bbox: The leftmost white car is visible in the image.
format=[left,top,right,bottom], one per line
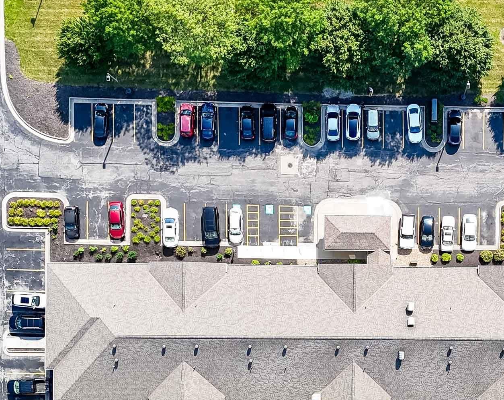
[12,291,46,309]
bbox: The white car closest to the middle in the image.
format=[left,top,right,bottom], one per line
[227,206,244,244]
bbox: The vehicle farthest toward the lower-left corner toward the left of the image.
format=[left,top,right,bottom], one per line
[7,379,51,396]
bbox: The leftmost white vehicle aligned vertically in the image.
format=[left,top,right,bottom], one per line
[161,209,180,247]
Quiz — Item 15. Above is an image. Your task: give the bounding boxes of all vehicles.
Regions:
[12,291,46,309]
[406,105,423,143]
[447,110,464,145]
[11,314,46,330]
[402,212,415,250]
[365,109,382,140]
[325,105,341,142]
[110,202,126,240]
[227,206,244,244]
[460,214,478,250]
[283,106,299,143]
[7,379,51,396]
[440,217,455,251]
[161,209,180,247]
[345,105,362,142]
[201,206,220,247]
[419,216,435,250]
[179,103,197,139]
[62,203,81,241]
[92,103,111,138]
[239,105,256,142]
